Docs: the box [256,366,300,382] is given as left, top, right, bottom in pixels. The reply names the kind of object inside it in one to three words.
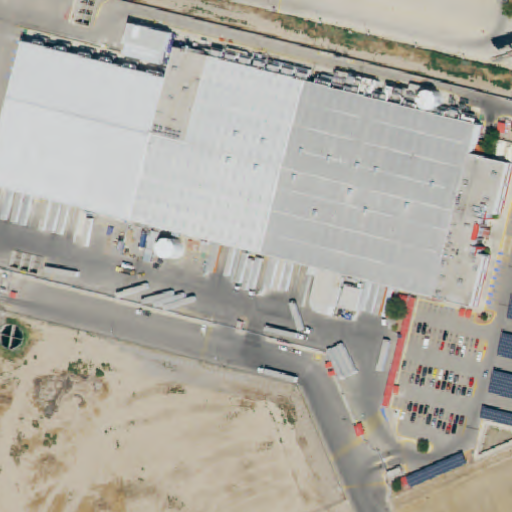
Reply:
vehicle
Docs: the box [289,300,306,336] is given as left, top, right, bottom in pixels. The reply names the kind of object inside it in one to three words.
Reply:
vehicle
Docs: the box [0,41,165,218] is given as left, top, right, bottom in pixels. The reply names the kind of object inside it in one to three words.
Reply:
building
